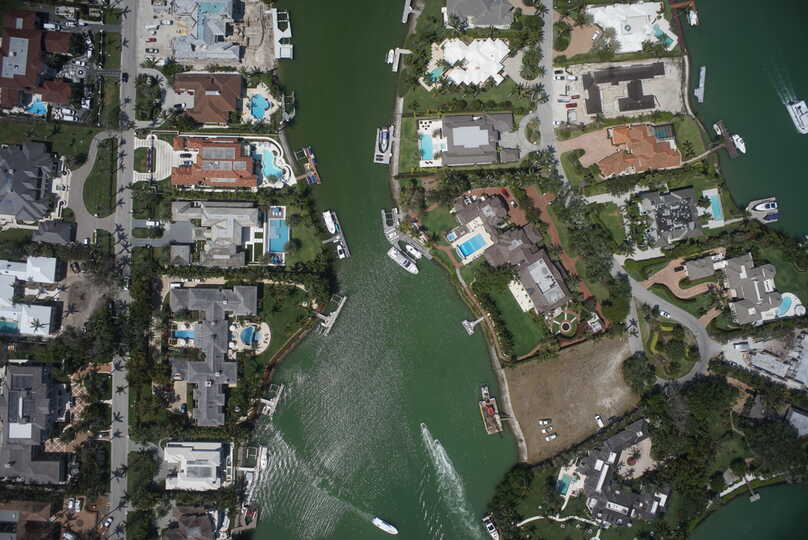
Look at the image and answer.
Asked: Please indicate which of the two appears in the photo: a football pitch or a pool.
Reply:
pool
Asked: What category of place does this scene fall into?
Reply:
residential area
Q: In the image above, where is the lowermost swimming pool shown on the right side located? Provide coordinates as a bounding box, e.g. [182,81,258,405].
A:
[557,472,571,497]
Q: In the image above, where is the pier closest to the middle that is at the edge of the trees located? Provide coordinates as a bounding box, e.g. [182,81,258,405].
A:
[380,208,432,261]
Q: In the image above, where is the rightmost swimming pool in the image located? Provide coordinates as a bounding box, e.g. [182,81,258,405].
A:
[774,293,805,318]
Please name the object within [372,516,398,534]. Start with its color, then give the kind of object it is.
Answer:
white boat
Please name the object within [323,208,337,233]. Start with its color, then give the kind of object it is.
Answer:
white boat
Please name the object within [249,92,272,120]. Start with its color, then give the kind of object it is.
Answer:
blue swimming pool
